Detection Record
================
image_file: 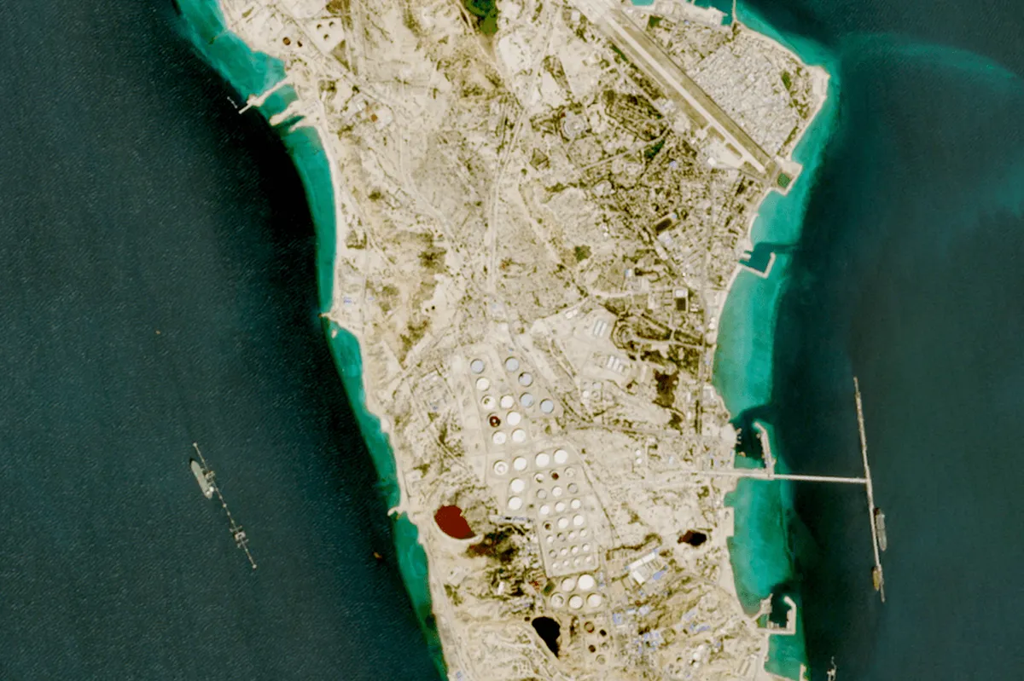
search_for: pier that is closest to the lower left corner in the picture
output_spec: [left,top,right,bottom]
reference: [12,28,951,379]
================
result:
[193,443,256,568]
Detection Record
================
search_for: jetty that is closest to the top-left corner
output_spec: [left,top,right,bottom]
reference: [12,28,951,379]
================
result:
[228,77,296,113]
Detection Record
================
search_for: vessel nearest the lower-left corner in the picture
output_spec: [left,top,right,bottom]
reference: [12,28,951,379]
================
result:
[190,459,212,499]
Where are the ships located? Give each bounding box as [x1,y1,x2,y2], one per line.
[190,459,212,499]
[876,510,887,551]
[872,568,879,591]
